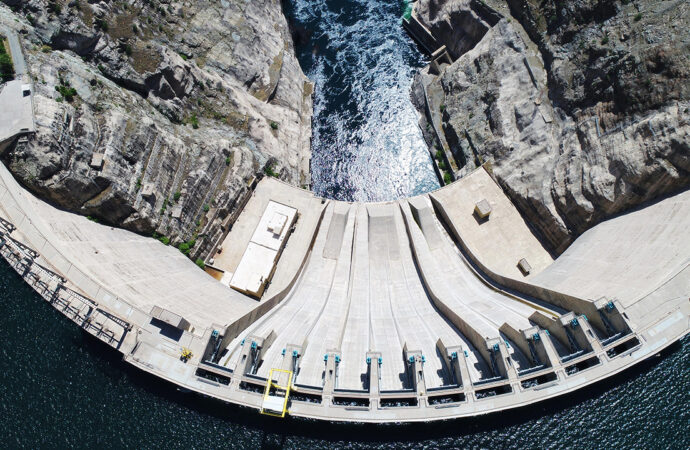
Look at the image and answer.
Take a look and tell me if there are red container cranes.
No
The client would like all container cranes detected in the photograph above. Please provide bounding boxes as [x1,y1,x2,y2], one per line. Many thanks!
[260,368,294,418]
